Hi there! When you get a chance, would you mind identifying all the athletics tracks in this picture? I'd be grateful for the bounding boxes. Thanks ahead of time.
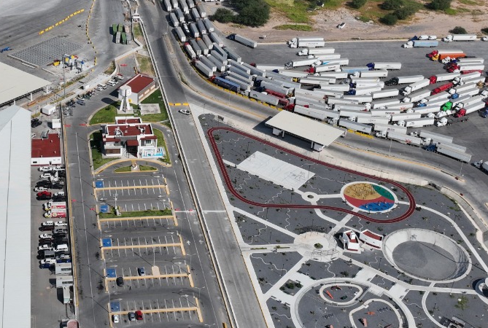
[205,125,416,223]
